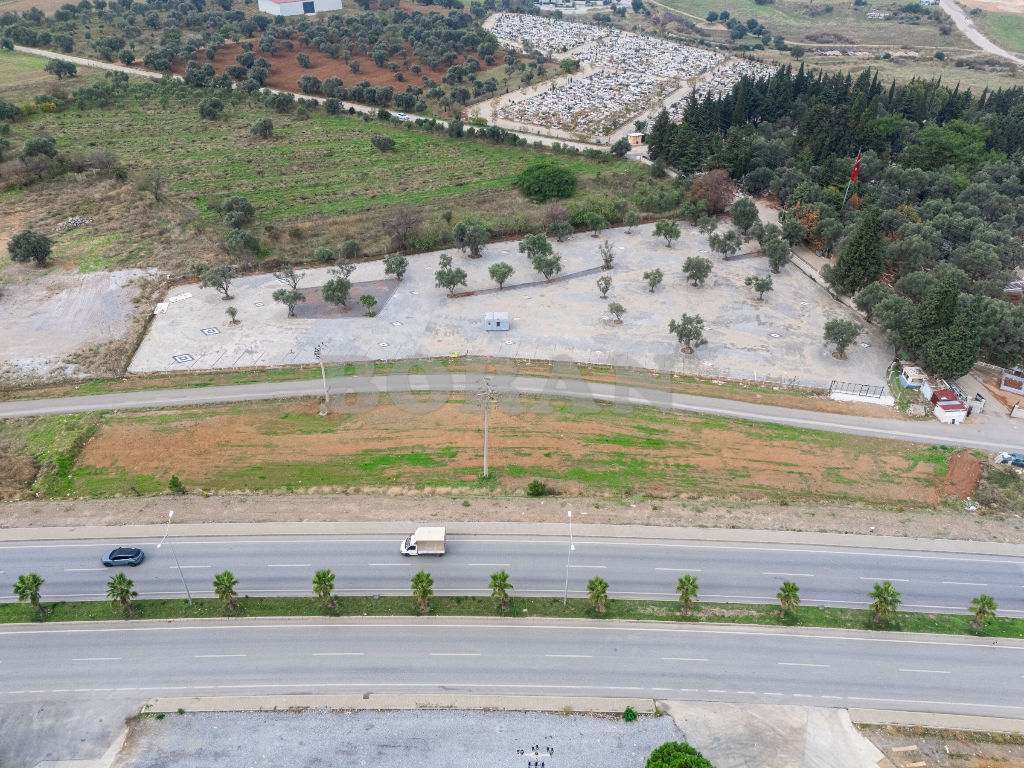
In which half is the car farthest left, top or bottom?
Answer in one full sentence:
Seen from above, the car farthest left lies in the bottom half of the view.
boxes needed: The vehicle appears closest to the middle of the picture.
[403,524,446,556]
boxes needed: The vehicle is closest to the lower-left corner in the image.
[101,544,148,566]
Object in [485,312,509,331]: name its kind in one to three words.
building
